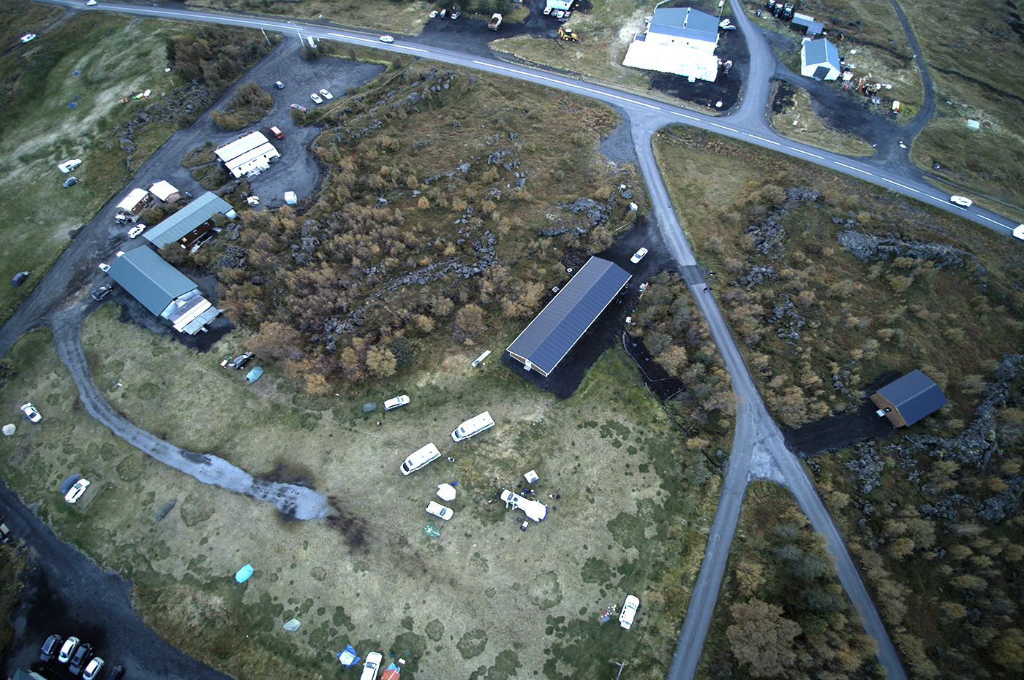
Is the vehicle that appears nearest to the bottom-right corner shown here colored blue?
No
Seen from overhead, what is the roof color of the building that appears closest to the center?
blue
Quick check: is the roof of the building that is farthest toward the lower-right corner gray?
No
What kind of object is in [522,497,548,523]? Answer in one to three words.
tent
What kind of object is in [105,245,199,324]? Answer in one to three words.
barn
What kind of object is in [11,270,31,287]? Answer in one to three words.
car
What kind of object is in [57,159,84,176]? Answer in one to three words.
camper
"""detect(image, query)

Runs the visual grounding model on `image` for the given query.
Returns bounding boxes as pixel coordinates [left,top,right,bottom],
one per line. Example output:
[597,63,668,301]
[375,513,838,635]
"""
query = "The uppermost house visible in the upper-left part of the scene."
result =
[214,130,284,179]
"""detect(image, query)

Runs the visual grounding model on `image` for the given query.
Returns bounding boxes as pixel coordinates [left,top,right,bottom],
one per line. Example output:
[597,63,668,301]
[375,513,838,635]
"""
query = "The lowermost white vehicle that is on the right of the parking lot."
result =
[361,652,381,680]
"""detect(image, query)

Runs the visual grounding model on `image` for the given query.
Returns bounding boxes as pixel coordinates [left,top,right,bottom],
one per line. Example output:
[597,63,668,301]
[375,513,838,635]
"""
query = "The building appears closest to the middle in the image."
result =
[506,256,631,381]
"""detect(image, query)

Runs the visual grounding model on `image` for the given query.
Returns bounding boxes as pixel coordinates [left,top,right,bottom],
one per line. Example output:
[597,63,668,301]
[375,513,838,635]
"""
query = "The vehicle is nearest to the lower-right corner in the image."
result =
[619,592,640,631]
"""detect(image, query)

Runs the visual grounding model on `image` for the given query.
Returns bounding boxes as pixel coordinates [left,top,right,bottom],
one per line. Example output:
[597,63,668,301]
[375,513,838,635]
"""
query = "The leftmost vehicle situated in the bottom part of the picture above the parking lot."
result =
[15,394,43,426]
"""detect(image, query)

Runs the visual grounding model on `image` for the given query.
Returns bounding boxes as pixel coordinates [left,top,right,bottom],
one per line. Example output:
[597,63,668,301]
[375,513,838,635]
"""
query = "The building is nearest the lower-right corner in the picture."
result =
[874,369,950,430]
